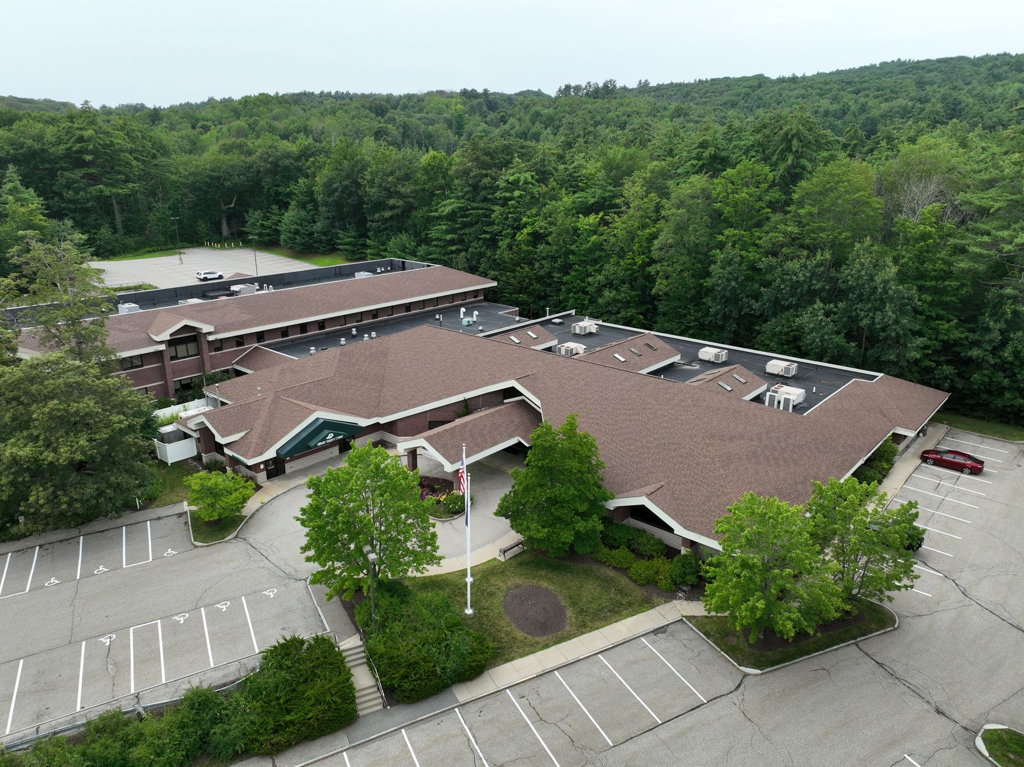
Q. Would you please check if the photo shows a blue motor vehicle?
No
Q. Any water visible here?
No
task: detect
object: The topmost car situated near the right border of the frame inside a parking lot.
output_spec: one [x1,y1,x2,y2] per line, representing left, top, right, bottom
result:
[919,449,987,475]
